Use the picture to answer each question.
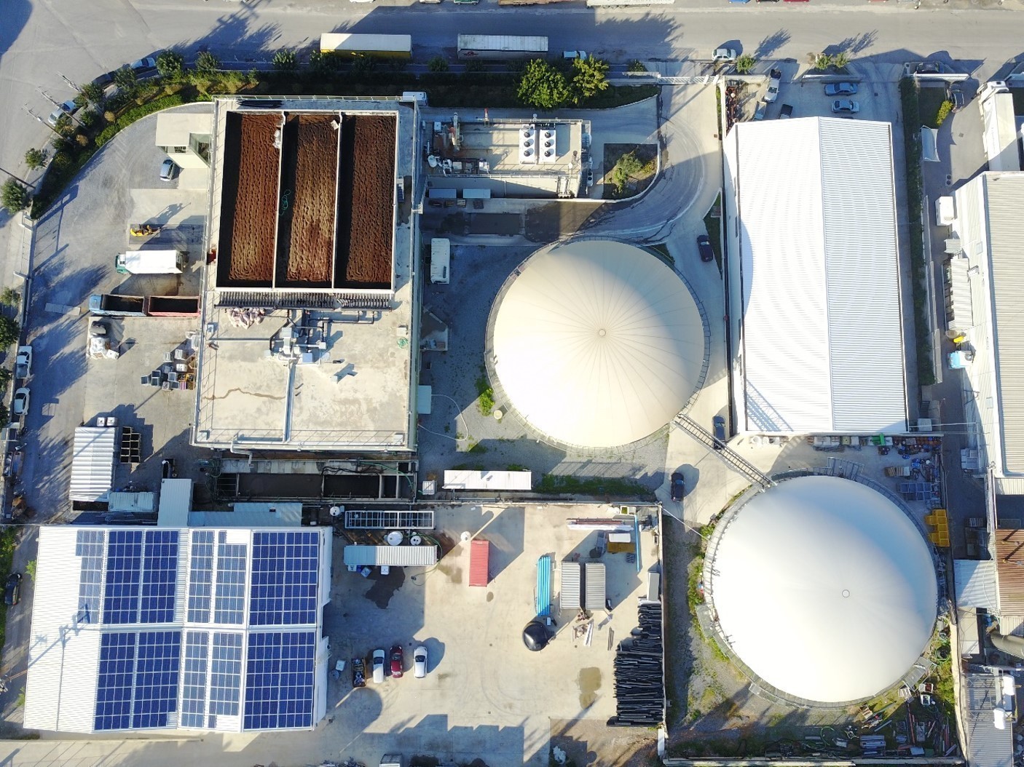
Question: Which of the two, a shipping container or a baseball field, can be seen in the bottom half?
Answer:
shipping container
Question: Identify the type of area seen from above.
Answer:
industrial area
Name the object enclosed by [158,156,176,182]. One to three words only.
car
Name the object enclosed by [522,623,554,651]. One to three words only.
storage tank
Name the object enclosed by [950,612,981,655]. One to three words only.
building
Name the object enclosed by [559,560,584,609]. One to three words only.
shipping container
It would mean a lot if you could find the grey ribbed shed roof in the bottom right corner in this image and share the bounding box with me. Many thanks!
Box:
[959,715,1013,767]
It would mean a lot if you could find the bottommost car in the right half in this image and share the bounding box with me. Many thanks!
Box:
[671,471,687,501]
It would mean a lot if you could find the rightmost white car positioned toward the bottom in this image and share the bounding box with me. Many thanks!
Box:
[411,647,427,680]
